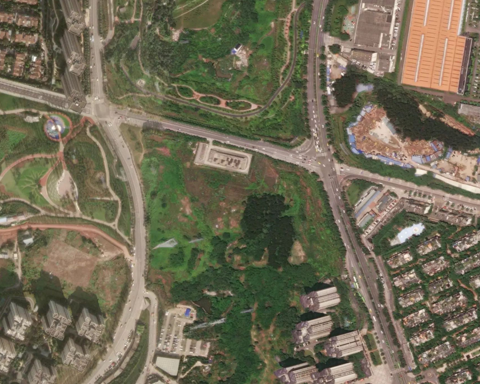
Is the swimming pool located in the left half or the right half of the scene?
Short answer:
right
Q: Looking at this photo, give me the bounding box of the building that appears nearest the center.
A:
[194,142,252,174]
